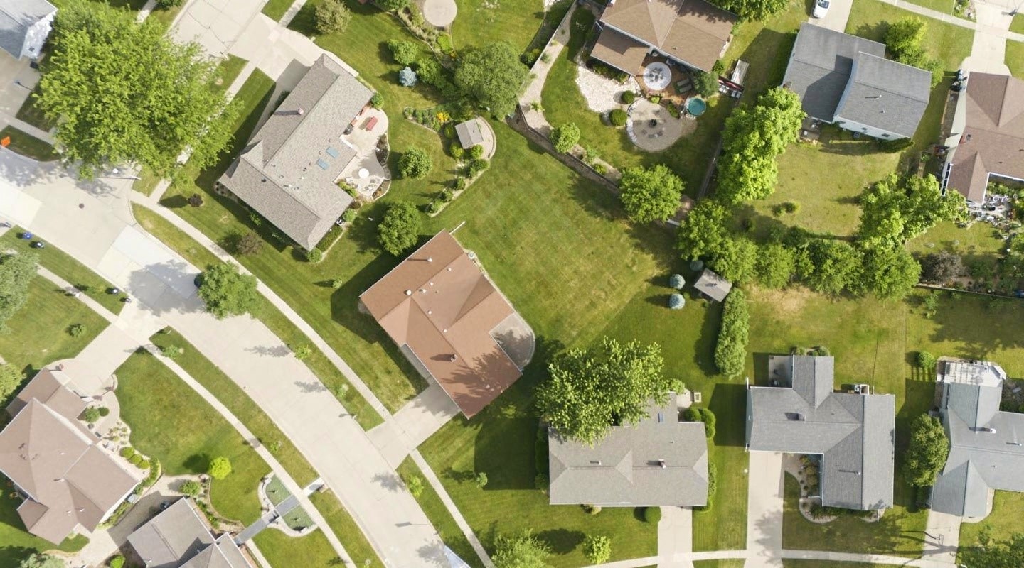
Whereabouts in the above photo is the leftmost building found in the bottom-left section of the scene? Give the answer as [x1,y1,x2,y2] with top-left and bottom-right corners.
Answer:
[0,367,146,546]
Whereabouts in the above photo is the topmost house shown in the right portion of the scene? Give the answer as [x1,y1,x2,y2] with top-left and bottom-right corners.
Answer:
[590,0,738,77]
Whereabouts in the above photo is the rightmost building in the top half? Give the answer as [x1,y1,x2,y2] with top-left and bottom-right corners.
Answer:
[935,71,1024,205]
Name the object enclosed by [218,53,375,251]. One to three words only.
house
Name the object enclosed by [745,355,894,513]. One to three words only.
house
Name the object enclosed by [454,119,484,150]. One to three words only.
shed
